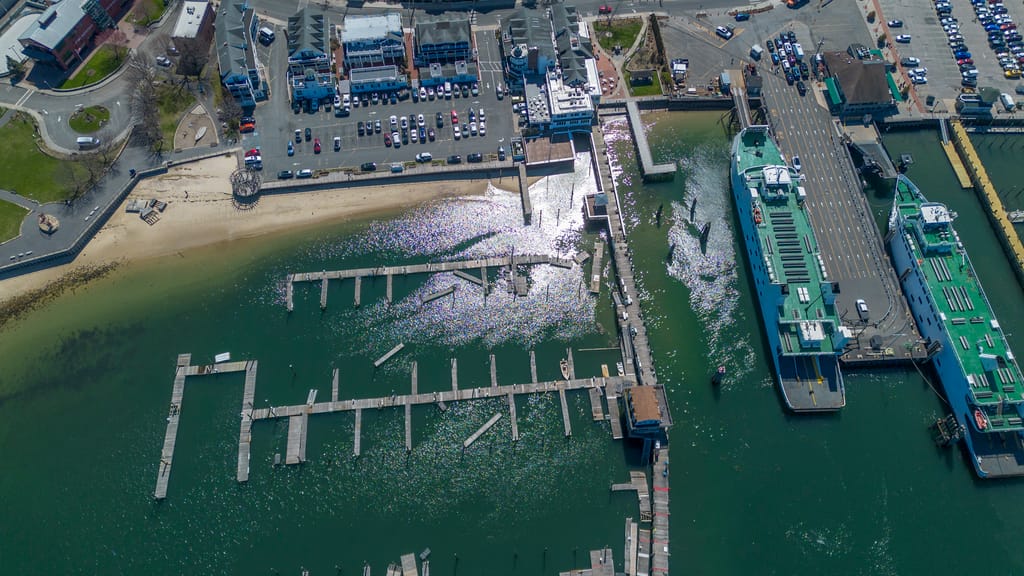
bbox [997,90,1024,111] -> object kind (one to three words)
vehicle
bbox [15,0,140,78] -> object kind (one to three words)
building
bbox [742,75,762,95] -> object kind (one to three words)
shed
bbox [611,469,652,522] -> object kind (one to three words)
pier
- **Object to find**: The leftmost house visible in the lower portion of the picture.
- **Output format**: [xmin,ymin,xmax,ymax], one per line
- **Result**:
[621,383,674,462]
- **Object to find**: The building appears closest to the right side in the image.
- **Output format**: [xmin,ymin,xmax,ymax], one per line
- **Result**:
[946,86,1001,121]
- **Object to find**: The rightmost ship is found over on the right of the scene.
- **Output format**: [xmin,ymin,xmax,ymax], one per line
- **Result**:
[887,171,1024,478]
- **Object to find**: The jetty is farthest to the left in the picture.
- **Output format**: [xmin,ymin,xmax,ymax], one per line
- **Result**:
[154,353,258,500]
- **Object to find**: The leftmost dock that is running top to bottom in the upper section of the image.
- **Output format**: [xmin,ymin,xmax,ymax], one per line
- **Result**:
[518,163,532,220]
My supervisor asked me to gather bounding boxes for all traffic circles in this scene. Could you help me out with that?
[66,106,111,134]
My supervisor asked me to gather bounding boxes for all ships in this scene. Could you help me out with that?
[887,171,1024,478]
[733,125,854,414]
